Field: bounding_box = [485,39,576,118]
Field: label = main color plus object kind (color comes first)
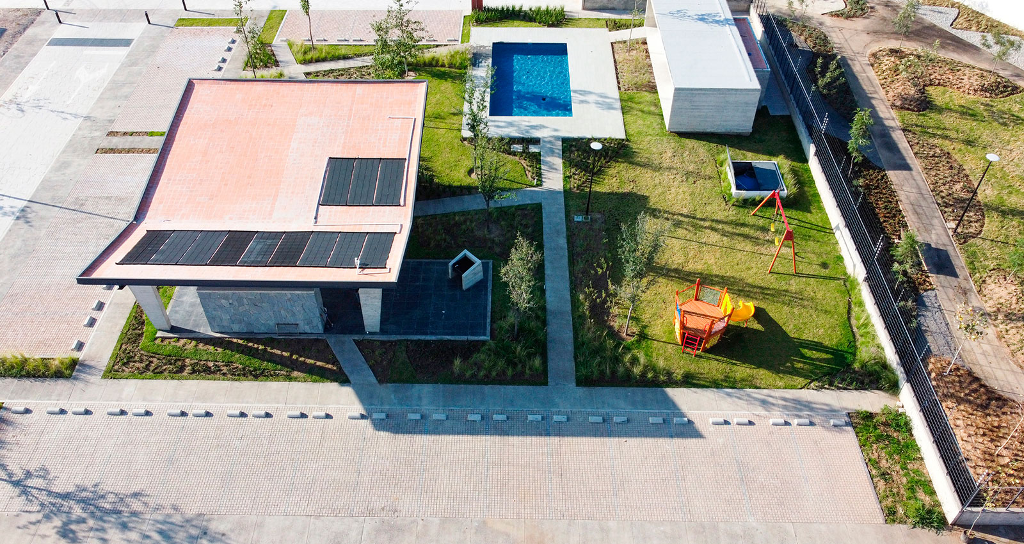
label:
blue swimming pool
